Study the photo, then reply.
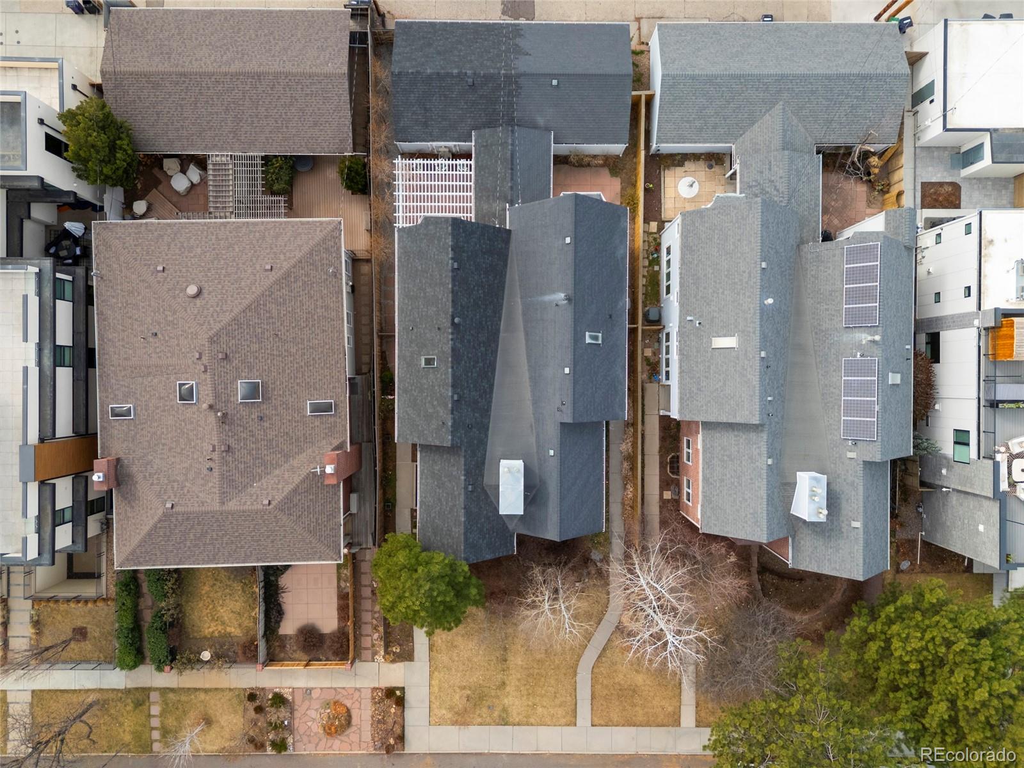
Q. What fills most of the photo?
buildings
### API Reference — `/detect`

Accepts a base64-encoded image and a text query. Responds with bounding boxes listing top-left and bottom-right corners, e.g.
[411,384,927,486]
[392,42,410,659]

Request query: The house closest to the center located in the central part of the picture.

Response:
[394,125,630,562]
